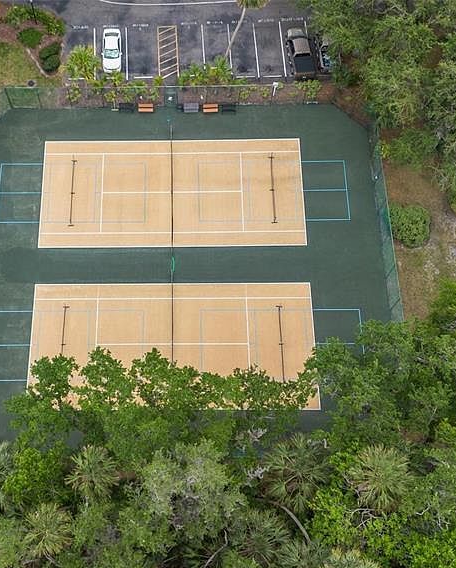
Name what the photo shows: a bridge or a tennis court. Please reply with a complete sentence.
There is a tennis court in the scene.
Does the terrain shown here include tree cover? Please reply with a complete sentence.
Yes, tree cover can be seen from above here.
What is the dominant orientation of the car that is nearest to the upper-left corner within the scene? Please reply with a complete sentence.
The car that is nearest to the upper-left corner is laid out from top to bottom.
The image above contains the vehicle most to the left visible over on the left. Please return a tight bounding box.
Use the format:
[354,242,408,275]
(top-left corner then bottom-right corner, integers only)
[99,29,121,71]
